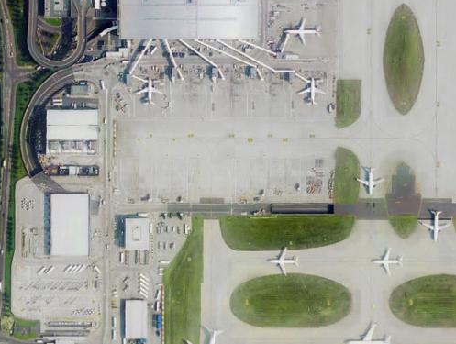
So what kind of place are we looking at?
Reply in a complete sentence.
The area seen from above is an airport.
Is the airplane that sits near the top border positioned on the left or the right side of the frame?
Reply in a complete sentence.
It is on the right.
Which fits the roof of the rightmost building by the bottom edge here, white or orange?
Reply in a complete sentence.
The roof of the rightmost building by the bottom edge looks white in the image.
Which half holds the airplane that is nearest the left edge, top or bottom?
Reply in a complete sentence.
The airplane that is nearest the left edge is in the top half of the image.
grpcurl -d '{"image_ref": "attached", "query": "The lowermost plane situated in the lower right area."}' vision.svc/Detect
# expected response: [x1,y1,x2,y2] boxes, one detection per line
[345,323,390,344]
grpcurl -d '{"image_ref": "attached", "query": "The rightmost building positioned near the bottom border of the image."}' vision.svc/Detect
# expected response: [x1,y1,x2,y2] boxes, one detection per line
[125,301,147,340]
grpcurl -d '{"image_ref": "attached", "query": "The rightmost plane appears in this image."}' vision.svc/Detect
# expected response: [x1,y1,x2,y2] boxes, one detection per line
[422,212,450,242]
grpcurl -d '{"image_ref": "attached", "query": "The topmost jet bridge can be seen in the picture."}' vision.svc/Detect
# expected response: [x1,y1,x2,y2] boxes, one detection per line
[238,33,290,57]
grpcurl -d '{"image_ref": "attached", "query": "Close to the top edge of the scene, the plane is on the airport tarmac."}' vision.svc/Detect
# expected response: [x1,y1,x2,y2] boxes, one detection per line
[285,17,322,46]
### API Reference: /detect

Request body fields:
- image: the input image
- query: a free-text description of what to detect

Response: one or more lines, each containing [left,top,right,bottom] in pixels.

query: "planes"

[285,17,322,46]
[345,323,390,344]
[358,167,384,195]
[372,248,402,275]
[299,78,326,105]
[268,248,298,275]
[422,212,450,242]
[138,78,164,105]
[208,331,219,344]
